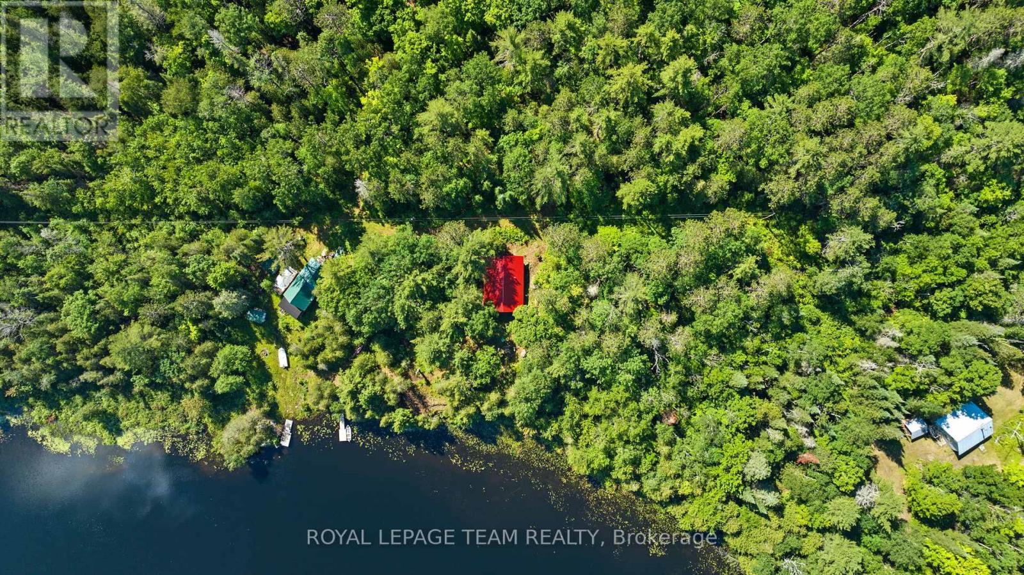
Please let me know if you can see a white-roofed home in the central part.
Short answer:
No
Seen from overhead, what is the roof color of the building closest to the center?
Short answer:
red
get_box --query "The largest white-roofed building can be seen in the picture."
[931,404,993,457]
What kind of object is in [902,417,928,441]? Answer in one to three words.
shed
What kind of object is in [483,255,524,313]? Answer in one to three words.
building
